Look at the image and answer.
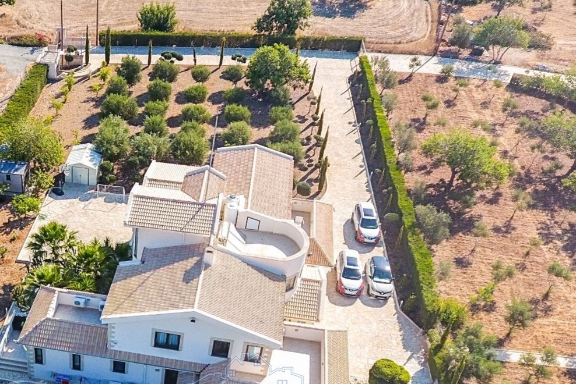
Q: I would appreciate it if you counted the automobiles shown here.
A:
3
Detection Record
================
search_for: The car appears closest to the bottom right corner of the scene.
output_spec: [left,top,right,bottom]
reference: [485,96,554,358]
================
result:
[361,259,396,302]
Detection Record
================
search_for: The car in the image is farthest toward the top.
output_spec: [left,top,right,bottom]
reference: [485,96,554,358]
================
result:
[349,208,381,245]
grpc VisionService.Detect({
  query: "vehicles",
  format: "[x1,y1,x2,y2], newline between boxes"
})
[349,208,381,245]
[361,259,396,302]
[330,254,365,298]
